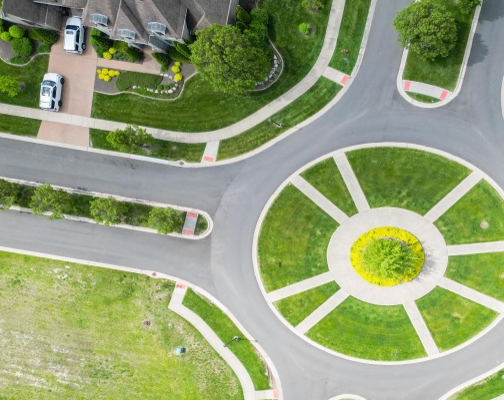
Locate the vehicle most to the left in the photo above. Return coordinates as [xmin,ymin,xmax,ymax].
[37,74,60,115]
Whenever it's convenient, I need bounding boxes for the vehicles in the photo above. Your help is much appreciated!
[61,17,84,57]
[37,74,60,115]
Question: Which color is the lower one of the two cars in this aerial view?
white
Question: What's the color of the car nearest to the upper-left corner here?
white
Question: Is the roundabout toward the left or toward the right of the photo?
right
